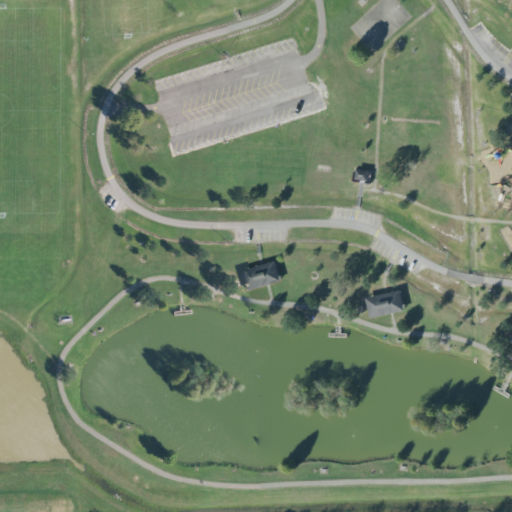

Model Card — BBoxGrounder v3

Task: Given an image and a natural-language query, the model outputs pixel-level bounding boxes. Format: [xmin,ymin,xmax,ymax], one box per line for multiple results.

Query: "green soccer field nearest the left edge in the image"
[0,0,62,215]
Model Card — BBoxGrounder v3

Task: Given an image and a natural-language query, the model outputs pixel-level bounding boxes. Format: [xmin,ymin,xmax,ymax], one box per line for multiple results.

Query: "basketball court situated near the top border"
[351,0,412,52]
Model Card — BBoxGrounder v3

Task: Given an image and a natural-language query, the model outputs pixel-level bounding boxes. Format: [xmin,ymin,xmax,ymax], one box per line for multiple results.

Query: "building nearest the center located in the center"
[242,261,282,290]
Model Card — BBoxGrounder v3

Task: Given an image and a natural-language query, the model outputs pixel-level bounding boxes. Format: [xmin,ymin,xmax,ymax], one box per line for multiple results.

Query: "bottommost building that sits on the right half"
[366,291,404,318]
